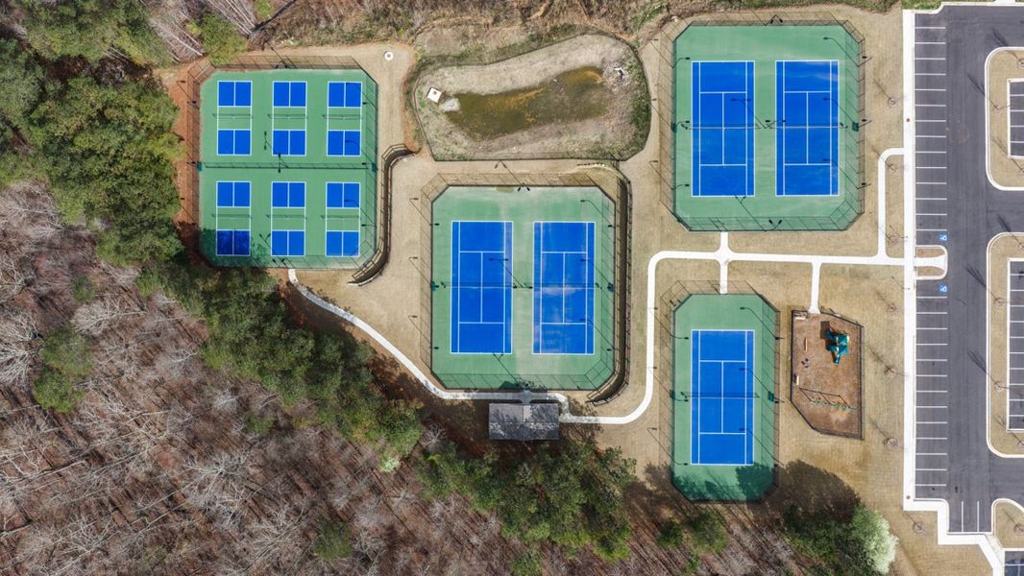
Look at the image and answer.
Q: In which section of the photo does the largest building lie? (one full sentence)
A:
The largest building sits in the bottom section of the image.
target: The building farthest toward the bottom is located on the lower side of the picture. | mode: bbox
[488,403,559,442]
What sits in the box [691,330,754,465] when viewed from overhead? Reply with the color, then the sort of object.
blue tennis court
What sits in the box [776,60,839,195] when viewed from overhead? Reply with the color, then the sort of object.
blue tennis court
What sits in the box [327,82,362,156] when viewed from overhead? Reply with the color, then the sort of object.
blue sports court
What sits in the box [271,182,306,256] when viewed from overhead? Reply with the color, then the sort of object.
blue sports court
